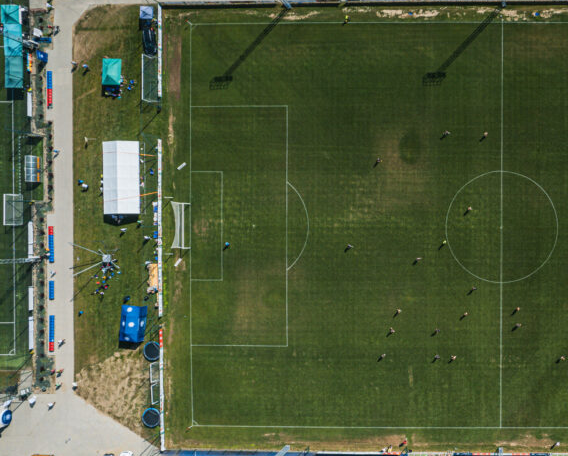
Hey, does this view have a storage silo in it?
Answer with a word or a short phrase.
No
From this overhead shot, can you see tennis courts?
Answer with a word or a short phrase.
No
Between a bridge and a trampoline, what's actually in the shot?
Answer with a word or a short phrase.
trampoline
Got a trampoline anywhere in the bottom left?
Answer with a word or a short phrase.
Yes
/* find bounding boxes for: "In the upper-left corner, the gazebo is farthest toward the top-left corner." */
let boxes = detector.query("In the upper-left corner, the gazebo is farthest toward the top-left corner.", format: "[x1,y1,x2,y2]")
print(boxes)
[1,7,27,28]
